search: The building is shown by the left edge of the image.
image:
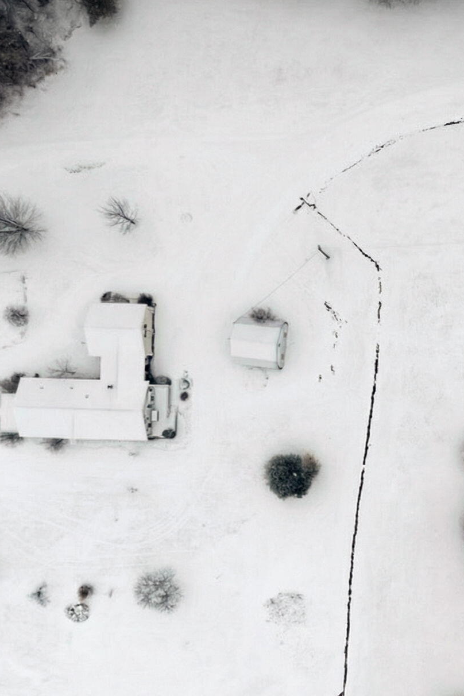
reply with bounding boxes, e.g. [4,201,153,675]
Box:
[0,303,179,440]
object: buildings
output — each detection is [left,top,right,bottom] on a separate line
[229,317,286,370]
[0,303,179,440]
